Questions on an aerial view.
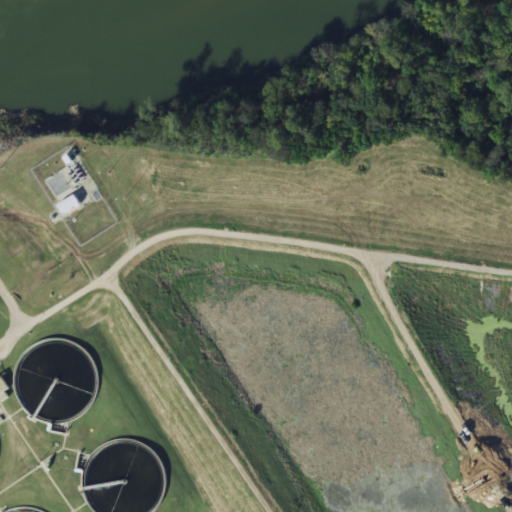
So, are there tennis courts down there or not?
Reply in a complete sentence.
No, there is no tennis court in the image.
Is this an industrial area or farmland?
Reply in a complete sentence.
The picture captures an industrial area.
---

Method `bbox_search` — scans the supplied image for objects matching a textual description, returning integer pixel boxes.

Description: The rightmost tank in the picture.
[76,438,167,512]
